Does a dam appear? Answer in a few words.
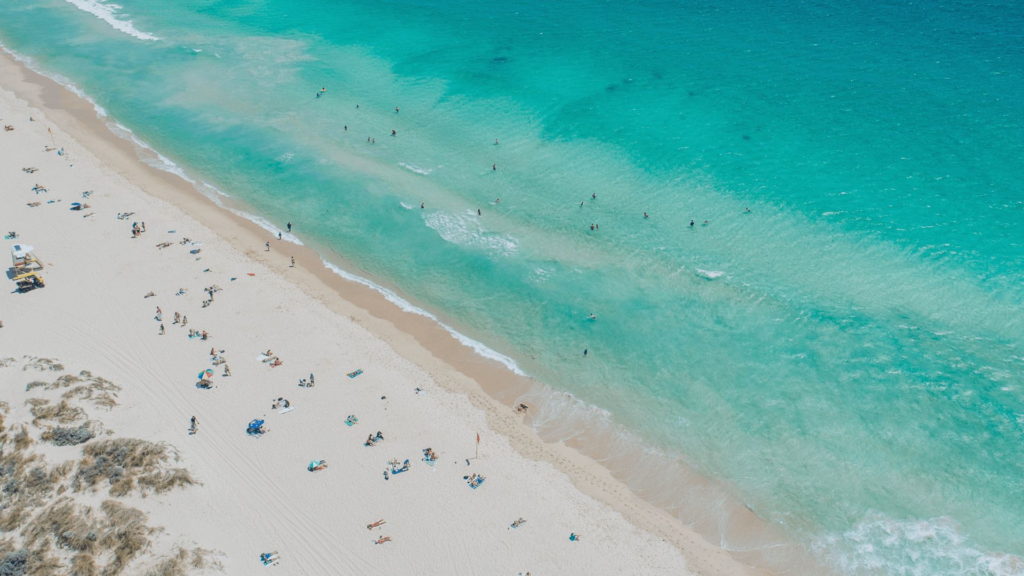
No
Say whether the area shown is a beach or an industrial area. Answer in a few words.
beach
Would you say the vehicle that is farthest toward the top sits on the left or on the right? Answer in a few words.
left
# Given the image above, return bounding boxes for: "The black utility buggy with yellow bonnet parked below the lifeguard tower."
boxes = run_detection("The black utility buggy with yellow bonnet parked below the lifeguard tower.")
[8,275,45,297]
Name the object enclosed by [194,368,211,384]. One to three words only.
umbrella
